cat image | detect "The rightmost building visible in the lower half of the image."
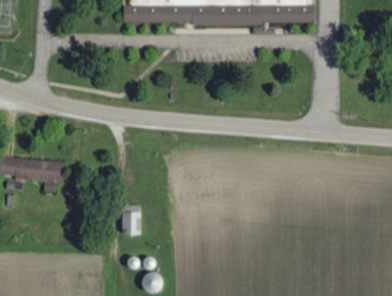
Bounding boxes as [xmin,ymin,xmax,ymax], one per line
[122,201,142,238]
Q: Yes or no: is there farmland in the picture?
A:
Yes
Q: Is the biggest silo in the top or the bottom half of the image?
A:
bottom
